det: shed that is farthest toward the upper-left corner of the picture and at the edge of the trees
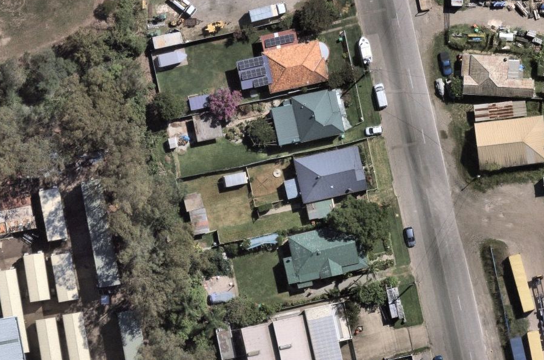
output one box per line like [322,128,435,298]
[152,32,182,49]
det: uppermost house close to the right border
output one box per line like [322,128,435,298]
[461,54,535,97]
